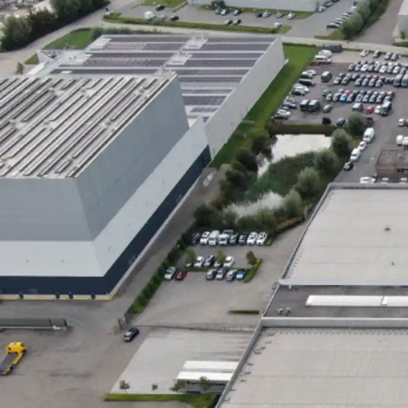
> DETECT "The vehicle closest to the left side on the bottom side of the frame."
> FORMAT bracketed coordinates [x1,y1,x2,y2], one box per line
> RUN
[0,336,23,367]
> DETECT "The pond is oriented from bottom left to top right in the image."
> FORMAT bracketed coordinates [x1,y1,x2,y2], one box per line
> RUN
[232,135,333,217]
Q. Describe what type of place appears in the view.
industrial area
